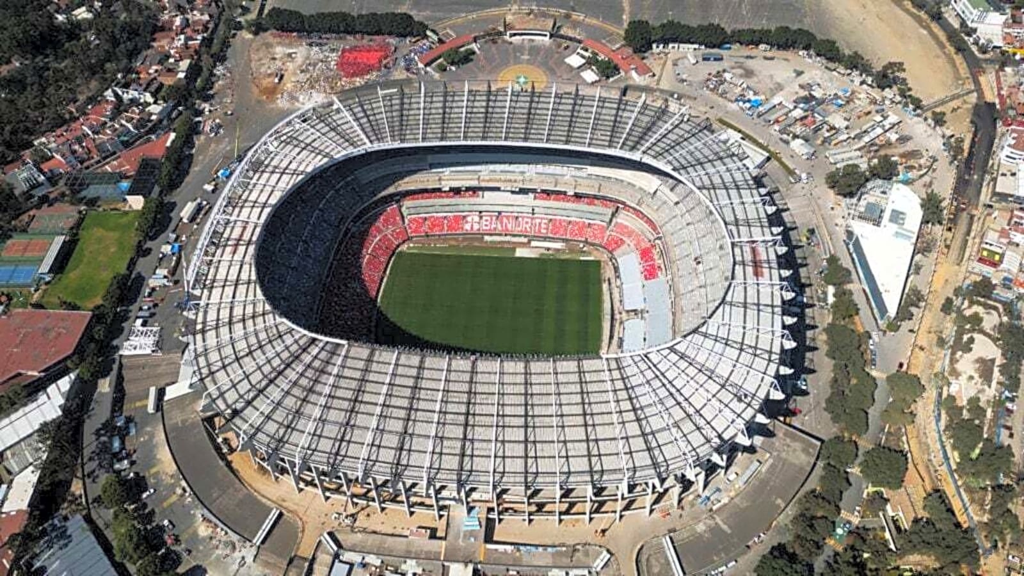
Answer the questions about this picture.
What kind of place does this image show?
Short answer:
sports ground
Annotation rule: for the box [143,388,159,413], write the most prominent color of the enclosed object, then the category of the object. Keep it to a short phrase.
white vehicle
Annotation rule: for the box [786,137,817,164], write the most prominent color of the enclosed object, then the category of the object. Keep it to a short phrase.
white tent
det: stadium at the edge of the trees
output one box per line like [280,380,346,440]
[181,77,794,525]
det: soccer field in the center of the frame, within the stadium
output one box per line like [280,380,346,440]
[378,251,602,359]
